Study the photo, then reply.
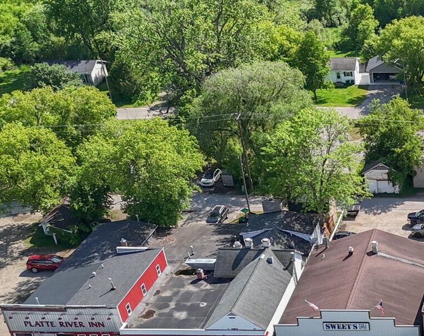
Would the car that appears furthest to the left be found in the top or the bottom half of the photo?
bottom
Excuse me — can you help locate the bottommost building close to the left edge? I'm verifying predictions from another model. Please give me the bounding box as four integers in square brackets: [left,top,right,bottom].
[0,221,165,336]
